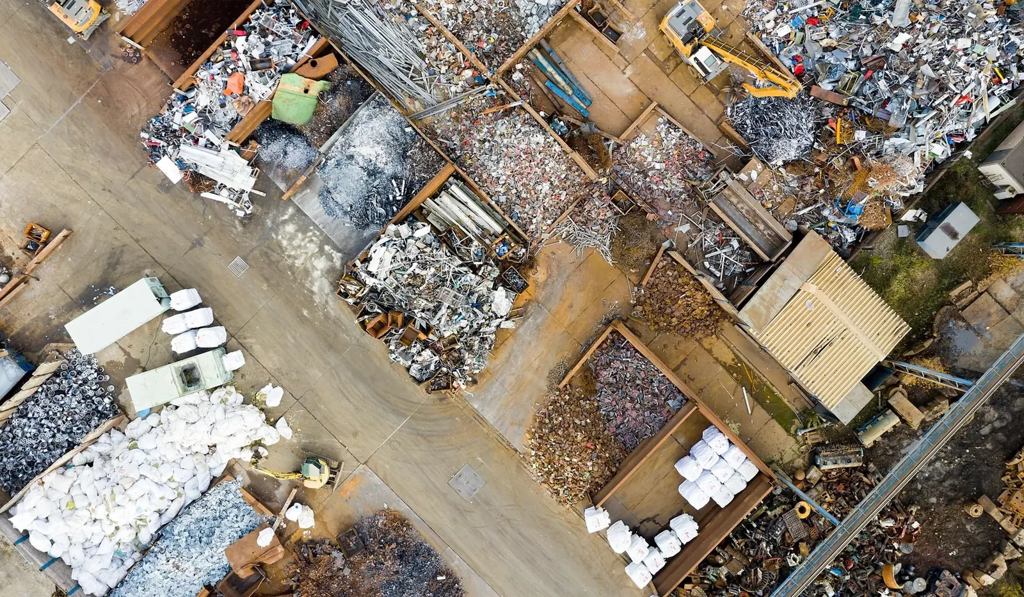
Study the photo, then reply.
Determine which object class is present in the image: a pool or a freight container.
freight container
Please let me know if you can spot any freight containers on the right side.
Yes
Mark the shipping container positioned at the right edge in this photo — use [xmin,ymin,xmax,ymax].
[893,201,981,262]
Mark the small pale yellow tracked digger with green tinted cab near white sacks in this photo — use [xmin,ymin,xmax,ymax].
[257,448,352,495]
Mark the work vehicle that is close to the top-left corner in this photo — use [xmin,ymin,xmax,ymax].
[35,0,121,42]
